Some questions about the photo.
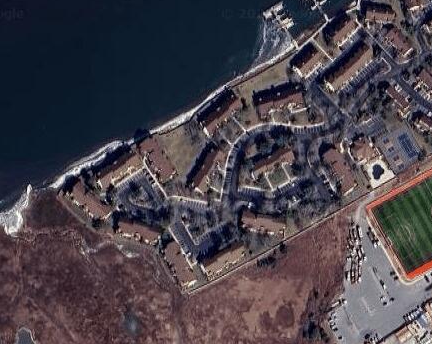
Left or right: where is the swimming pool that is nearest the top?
right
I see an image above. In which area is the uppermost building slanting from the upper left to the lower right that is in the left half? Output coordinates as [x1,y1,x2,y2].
[140,141,178,187]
